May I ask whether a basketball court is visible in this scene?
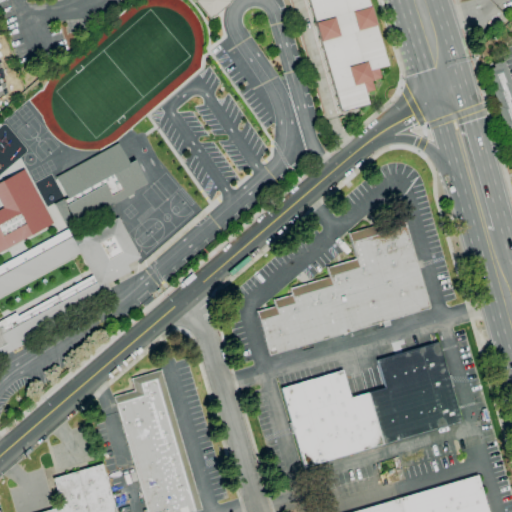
Yes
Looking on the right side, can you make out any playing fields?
No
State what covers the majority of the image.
paved ground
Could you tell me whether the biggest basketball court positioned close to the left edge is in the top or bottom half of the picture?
top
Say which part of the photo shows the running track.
top left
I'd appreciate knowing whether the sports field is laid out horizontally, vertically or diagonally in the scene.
diagonally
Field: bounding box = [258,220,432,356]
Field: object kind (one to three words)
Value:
building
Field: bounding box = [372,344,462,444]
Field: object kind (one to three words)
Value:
building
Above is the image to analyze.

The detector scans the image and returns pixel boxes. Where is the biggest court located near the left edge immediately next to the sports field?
[9,102,62,163]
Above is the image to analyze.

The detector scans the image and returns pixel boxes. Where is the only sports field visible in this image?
[52,7,196,142]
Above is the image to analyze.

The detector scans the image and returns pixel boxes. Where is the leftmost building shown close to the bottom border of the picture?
[36,464,117,512]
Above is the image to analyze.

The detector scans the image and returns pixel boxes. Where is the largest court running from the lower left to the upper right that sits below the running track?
[129,192,194,254]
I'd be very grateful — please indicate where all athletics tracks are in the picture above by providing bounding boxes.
[32,0,203,151]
